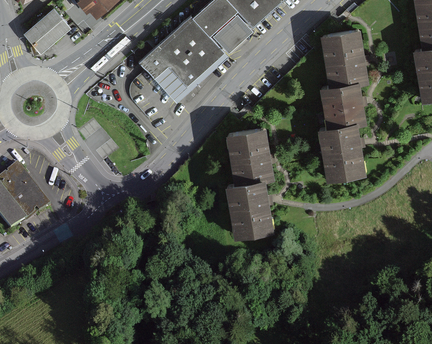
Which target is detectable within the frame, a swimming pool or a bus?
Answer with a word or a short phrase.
bus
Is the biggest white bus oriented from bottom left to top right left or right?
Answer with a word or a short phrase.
left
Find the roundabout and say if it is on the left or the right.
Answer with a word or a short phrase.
left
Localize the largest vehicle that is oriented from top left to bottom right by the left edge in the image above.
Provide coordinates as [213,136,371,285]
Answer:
[12,148,27,163]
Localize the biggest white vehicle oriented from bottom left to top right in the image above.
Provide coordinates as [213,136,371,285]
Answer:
[92,36,130,72]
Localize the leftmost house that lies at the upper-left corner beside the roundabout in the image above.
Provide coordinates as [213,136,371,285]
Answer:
[24,8,71,56]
